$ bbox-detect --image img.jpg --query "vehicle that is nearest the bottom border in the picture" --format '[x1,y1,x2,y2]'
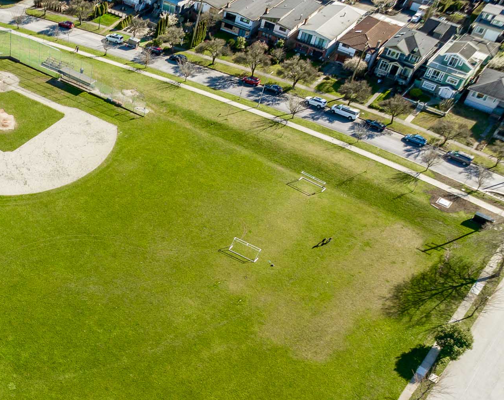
[445,152,473,166]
